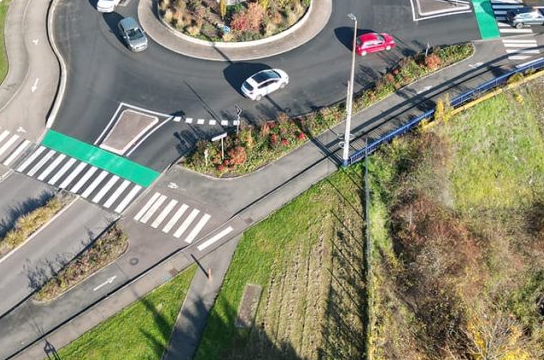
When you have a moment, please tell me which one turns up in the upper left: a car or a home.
car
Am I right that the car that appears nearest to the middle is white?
Yes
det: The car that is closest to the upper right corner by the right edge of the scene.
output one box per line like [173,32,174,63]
[507,5,544,27]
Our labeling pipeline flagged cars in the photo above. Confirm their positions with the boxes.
[239,68,289,99]
[355,31,397,56]
[507,5,544,27]
[117,14,147,47]
[96,0,119,10]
